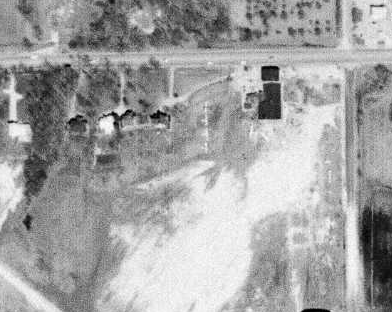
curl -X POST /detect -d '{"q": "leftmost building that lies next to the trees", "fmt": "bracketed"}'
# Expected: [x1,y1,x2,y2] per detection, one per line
[9,123,32,142]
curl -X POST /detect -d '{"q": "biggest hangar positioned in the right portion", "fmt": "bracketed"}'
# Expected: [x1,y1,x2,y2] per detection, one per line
[259,81,282,119]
